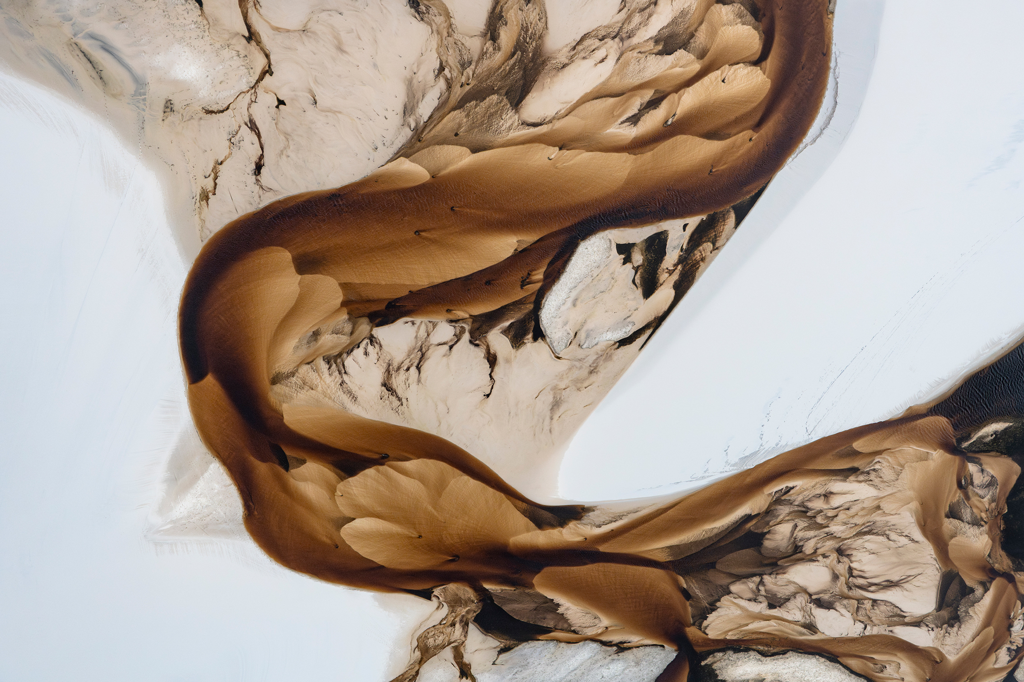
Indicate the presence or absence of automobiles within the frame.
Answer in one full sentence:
No, I can see no automobile in this picture.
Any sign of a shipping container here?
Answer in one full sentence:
No, the photo shows no shipping container.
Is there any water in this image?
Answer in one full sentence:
Yes, water shows up in the scene.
